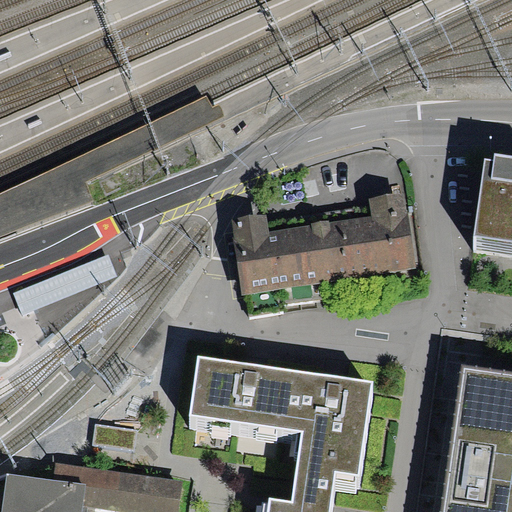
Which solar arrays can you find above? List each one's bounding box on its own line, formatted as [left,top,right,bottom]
[254,378,289,415]
[303,415,328,497]
[450,504,507,512]
[461,372,512,436]
[210,372,234,408]
[492,484,508,500]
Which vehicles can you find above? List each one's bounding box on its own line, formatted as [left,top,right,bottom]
[337,162,348,187]
[447,156,466,166]
[322,166,333,186]
[448,182,458,204]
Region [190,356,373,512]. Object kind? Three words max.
building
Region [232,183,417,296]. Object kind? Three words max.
house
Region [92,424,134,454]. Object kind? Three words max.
shed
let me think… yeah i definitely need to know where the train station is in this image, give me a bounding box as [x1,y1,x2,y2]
[0,0,505,190]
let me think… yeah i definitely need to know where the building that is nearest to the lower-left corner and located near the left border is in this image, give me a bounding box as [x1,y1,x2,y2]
[2,474,86,512]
